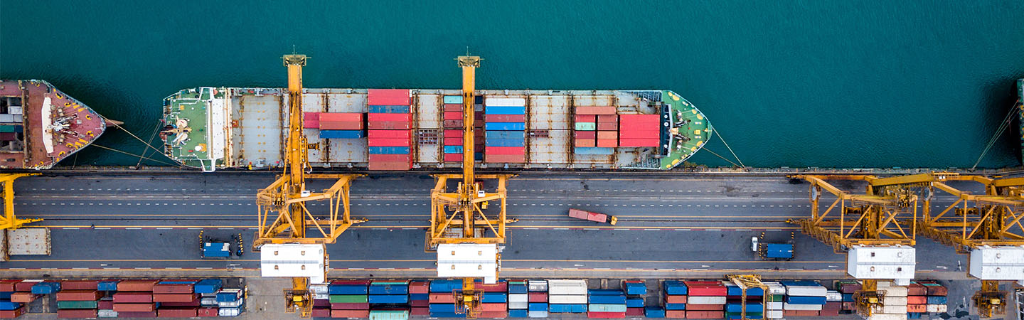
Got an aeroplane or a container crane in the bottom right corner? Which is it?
container crane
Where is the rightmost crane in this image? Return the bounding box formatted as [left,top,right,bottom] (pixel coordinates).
[893,172,1024,320]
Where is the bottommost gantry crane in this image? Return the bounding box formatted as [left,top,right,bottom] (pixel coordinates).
[724,275,770,320]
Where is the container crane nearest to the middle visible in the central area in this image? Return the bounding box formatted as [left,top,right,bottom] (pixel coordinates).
[422,48,518,319]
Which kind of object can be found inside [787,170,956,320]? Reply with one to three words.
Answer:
container crane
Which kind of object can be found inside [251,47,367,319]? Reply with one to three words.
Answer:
container crane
